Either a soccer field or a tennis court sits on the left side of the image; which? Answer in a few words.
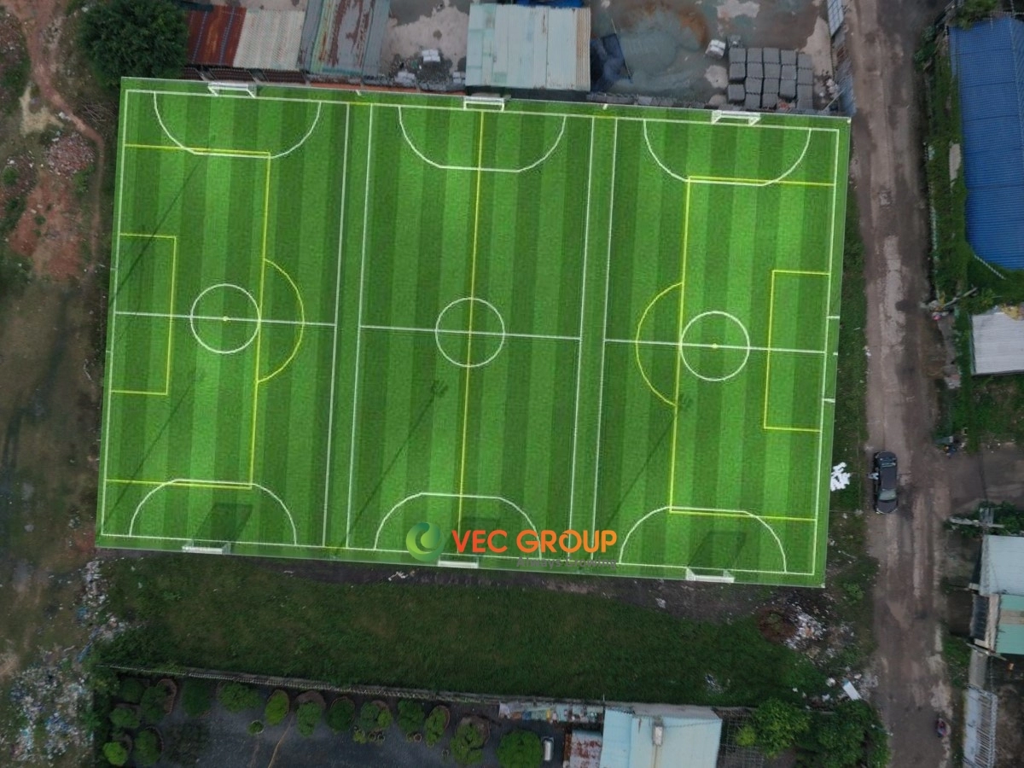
soccer field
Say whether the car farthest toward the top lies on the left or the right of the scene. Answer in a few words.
right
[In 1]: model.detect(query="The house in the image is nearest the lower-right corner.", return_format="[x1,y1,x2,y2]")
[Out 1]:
[960,589,1024,653]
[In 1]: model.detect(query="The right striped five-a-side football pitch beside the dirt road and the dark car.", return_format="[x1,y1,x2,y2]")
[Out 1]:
[580,104,851,587]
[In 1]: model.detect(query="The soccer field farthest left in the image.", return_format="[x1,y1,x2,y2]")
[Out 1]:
[96,77,360,560]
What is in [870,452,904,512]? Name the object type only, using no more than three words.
car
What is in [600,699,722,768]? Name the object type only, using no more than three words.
house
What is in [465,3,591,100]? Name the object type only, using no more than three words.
shed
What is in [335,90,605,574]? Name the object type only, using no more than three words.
soccer field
